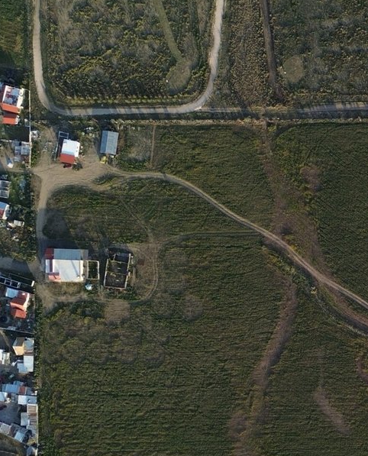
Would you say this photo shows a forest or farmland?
farmland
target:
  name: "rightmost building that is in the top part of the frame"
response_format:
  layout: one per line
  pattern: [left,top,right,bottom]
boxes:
[99,130,122,156]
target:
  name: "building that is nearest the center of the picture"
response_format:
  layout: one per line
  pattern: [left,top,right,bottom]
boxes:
[106,253,134,290]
